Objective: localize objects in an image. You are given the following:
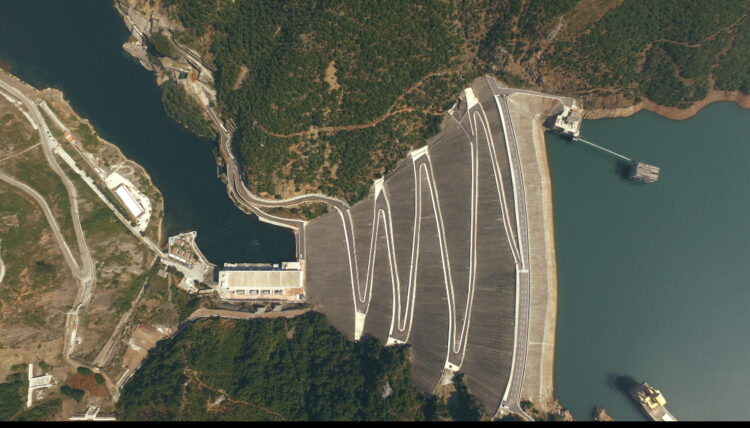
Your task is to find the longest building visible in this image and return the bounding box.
[218,262,305,301]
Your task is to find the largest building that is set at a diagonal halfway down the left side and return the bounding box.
[114,185,146,217]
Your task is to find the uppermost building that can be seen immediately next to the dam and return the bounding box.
[548,104,583,139]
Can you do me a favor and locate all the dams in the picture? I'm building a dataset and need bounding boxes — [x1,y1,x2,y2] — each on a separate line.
[305,75,561,419]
